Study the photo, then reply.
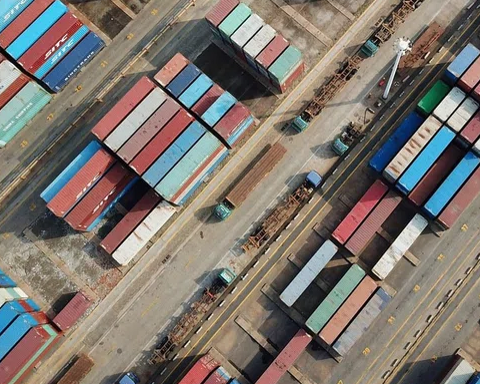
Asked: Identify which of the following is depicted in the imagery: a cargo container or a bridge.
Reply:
cargo container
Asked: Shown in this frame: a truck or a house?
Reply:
truck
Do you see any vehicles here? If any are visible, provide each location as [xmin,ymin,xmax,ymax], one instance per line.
[155,260,240,356]
[58,354,98,384]
[211,135,292,222]
[243,164,323,255]
[357,0,420,59]
[118,368,142,384]
[289,52,365,135]
[327,120,364,157]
